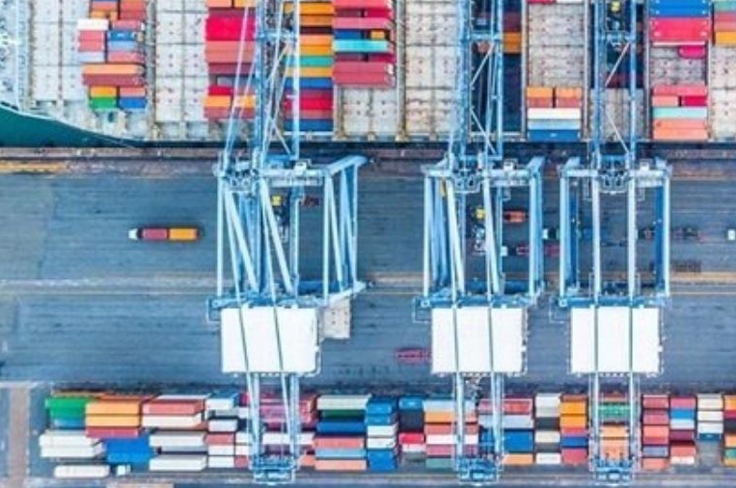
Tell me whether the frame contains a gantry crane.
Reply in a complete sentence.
Yes, the image includes a gantry crane.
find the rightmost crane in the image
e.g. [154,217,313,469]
[549,0,679,481]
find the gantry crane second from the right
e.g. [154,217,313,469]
[414,0,559,481]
